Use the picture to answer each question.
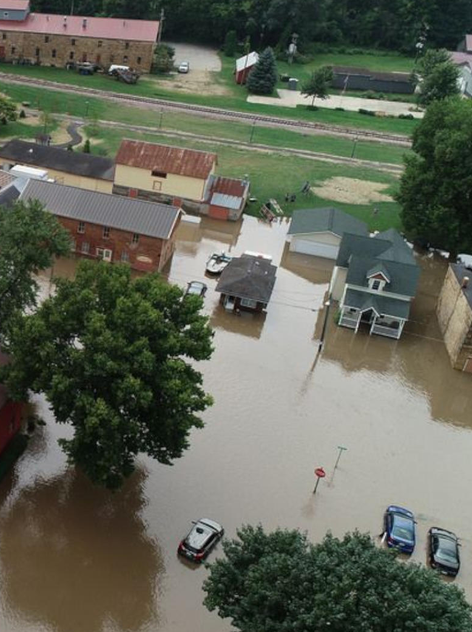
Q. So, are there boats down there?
Yes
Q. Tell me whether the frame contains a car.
Yes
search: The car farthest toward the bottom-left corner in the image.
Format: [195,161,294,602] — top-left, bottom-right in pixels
[177,525,221,568]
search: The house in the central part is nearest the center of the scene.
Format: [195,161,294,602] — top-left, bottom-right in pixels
[218,257,284,313]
